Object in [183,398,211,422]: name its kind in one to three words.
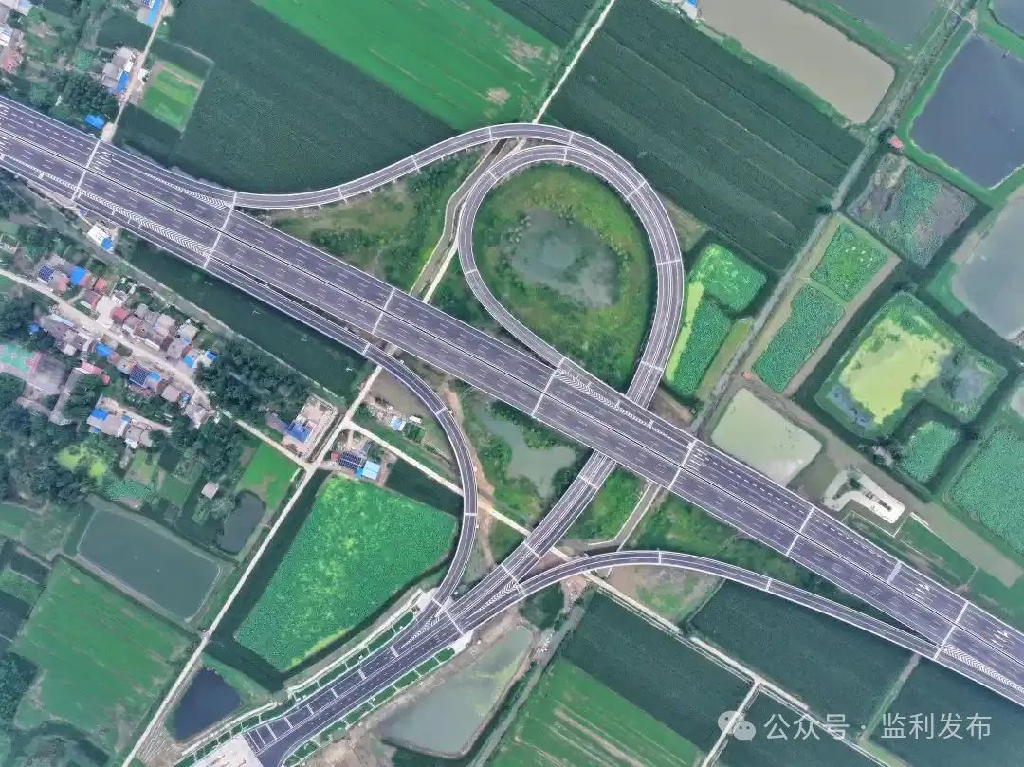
house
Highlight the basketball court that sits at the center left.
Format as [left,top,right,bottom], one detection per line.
[0,343,42,374]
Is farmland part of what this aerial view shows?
Yes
